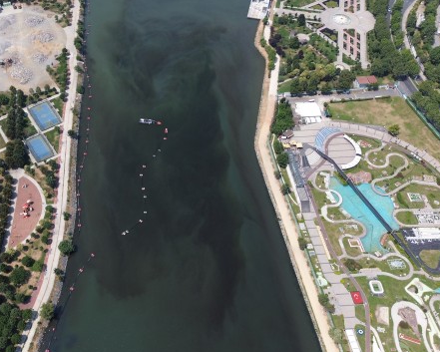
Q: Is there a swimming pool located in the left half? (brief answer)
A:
No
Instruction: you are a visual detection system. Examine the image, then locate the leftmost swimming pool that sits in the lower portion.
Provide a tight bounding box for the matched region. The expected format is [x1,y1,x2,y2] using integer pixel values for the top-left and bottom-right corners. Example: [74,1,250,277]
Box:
[329,181,400,254]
